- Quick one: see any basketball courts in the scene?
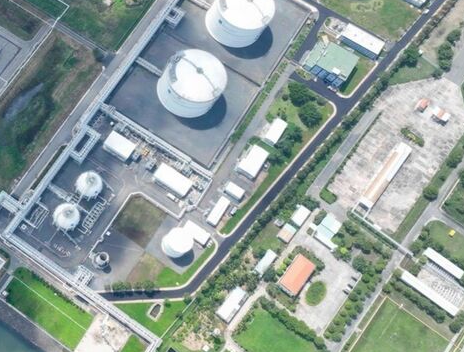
No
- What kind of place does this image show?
industrial area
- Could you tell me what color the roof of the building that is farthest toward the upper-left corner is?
white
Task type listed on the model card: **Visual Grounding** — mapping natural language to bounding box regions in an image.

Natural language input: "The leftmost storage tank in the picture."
[50,202,80,232]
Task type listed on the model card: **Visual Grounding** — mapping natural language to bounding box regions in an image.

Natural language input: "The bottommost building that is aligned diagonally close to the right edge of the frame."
[400,271,459,316]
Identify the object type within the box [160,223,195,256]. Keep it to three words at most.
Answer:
storage tank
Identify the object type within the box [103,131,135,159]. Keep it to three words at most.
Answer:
building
